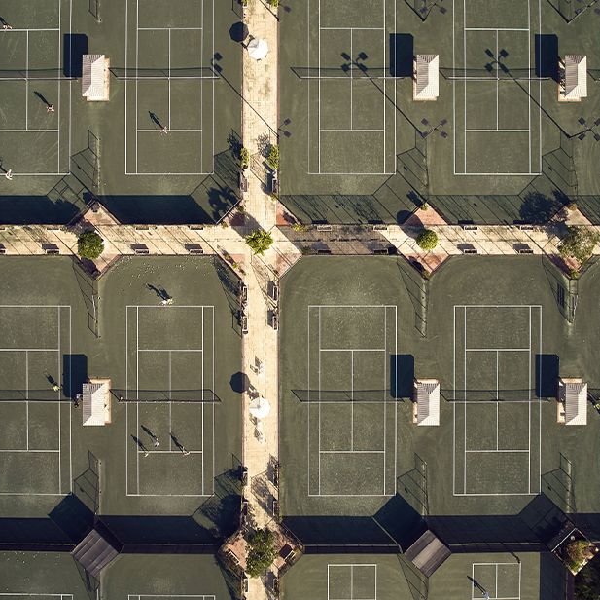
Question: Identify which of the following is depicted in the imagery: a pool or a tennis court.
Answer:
tennis court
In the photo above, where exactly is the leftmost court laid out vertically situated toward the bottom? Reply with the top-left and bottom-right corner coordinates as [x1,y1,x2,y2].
[0,256,97,543]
